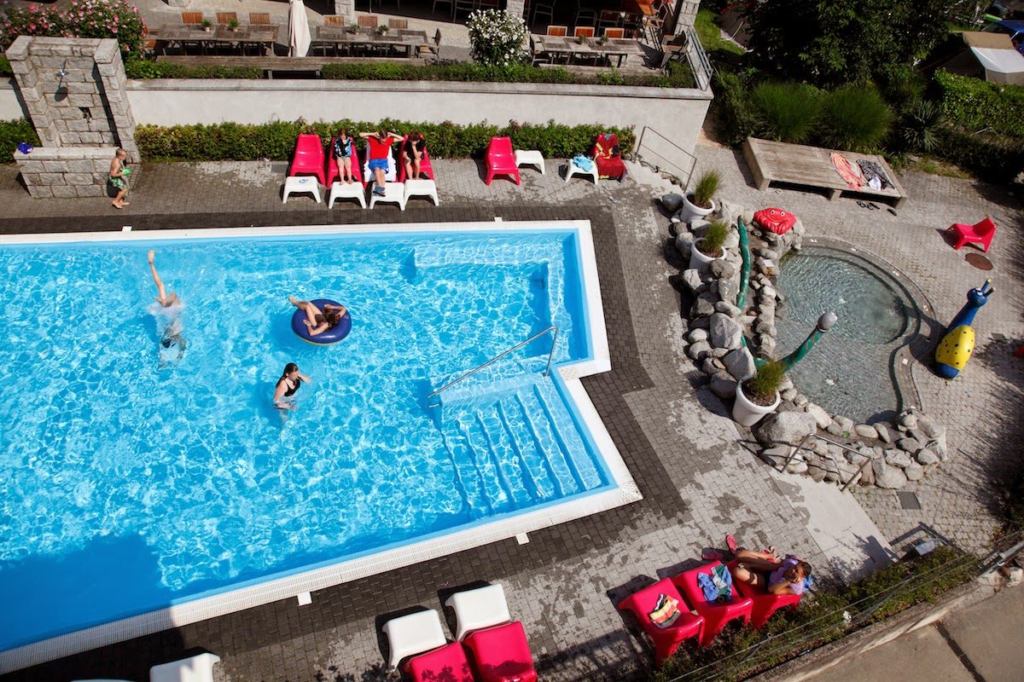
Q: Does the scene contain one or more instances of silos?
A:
No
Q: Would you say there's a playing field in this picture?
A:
No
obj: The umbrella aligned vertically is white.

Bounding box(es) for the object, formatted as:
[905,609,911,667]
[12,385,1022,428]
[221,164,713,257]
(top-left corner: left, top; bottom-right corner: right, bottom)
[278,0,308,56]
